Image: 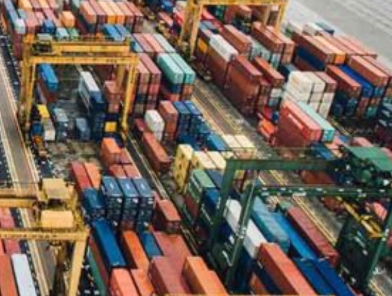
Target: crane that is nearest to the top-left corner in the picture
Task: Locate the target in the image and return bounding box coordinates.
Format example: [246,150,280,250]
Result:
[16,37,142,135]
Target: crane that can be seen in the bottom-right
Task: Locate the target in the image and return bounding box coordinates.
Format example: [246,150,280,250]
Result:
[209,146,392,290]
